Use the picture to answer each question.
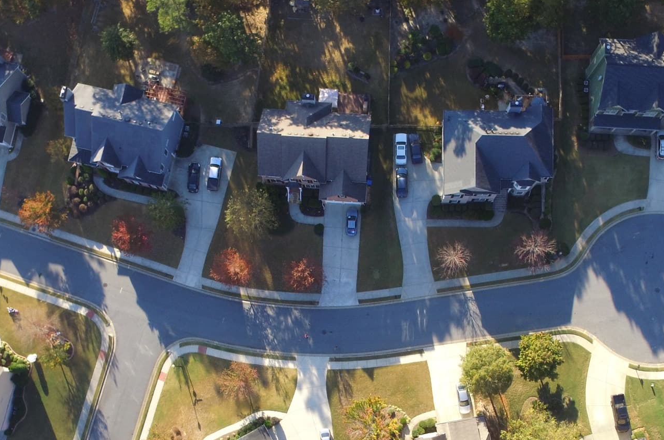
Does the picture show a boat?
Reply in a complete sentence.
No, the frame has no boat in it.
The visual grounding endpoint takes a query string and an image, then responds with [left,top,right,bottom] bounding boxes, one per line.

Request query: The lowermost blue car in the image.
[345,207,359,238]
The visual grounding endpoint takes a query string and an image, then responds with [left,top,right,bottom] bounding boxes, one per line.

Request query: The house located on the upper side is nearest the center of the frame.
[256,92,372,208]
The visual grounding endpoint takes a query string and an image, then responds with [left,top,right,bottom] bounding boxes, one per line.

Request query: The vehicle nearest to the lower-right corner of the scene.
[611,394,630,432]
